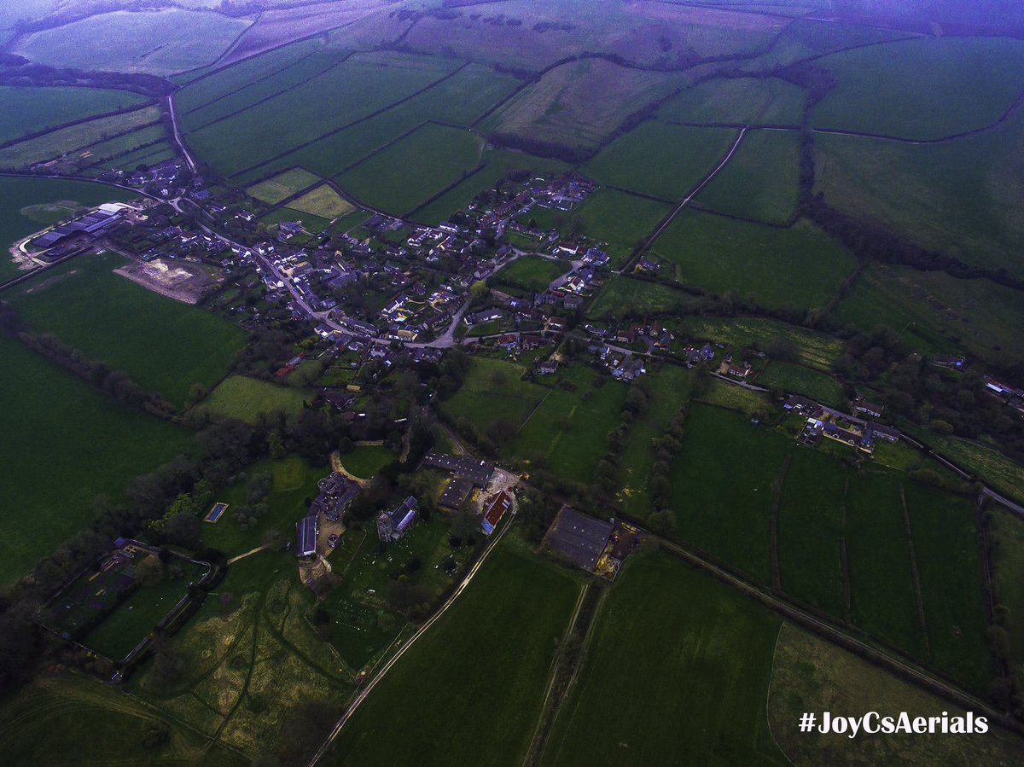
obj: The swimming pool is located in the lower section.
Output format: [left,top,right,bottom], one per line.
[204,503,228,522]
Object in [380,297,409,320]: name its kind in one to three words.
house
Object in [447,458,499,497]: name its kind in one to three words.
barn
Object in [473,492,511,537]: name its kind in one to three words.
barn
